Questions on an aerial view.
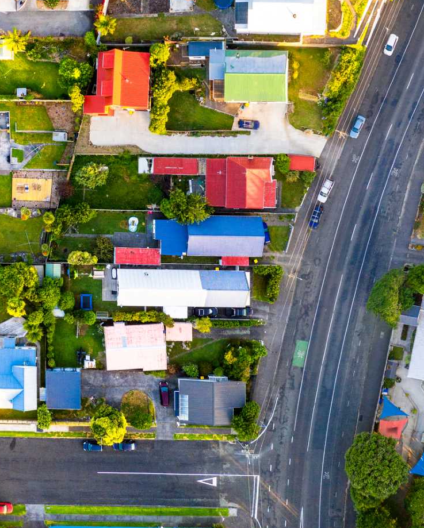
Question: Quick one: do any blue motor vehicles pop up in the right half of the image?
Yes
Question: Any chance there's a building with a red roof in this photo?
Yes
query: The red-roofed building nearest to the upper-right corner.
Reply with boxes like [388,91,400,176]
[289,155,315,171]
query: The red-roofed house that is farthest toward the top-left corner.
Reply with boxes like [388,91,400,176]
[83,47,151,116]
